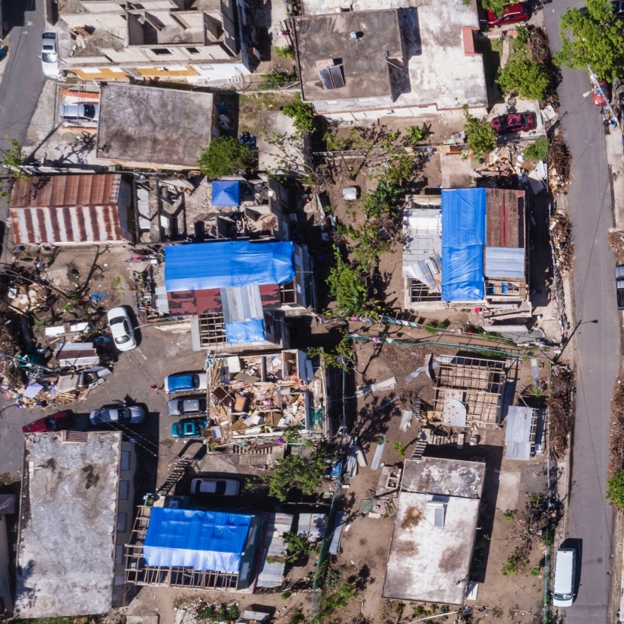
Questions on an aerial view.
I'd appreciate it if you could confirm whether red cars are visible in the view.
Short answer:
Yes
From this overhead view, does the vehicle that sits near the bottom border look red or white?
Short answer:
white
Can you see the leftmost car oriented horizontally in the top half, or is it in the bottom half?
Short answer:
bottom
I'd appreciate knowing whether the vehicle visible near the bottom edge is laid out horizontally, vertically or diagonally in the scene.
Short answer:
vertically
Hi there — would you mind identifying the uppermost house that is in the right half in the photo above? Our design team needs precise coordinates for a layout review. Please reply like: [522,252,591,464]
[293,0,488,127]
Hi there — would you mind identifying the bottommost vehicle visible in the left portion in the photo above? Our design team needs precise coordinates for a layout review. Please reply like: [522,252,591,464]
[189,476,242,498]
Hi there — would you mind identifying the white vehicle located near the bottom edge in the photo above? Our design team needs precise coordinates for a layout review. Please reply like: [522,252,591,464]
[552,548,576,609]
